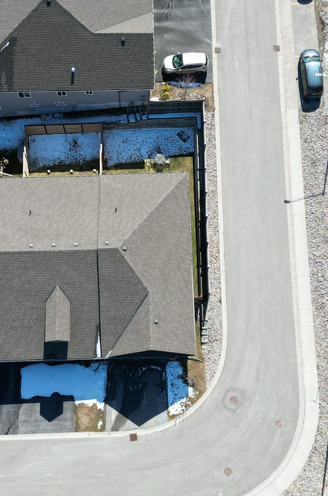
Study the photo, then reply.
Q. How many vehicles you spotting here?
2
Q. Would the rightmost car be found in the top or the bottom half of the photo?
top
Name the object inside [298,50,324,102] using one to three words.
car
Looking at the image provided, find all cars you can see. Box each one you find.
[298,50,324,102]
[160,53,211,80]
